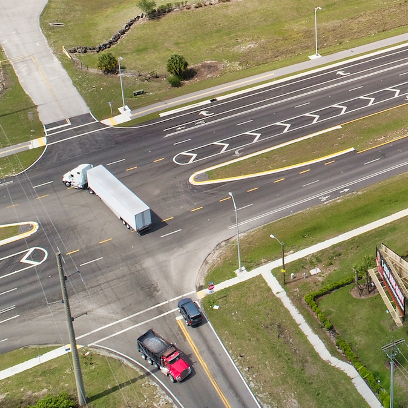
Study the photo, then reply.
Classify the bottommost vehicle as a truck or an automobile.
truck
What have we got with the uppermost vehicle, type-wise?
truck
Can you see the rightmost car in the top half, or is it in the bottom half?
bottom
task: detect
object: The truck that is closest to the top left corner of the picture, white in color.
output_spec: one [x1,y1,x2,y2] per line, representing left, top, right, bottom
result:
[63,162,153,233]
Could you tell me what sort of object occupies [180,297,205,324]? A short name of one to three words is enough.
car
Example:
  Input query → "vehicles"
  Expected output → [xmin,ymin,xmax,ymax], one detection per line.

[63,162,153,233]
[131,328,196,383]
[180,297,205,324]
